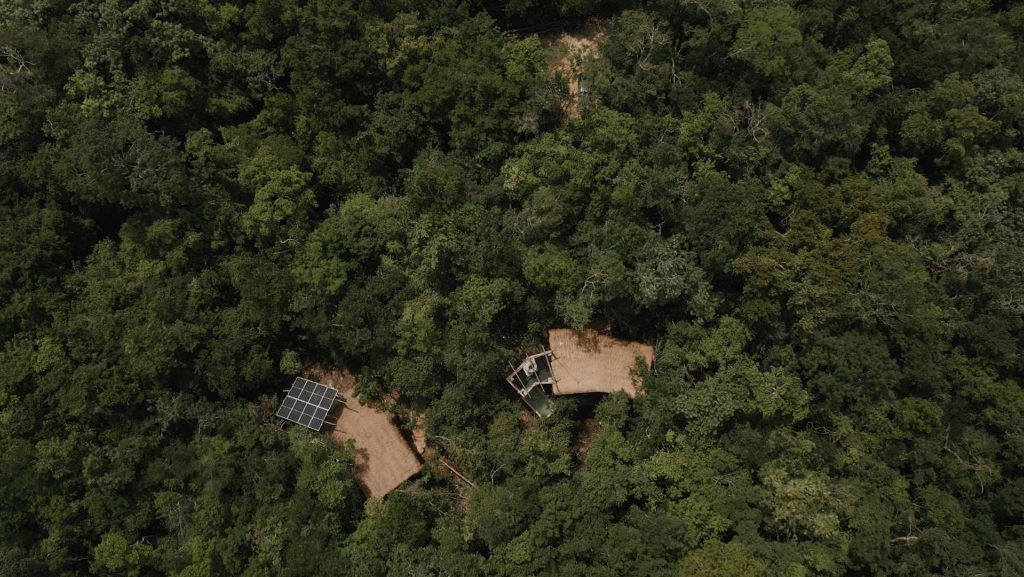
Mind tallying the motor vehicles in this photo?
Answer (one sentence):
Not a single motor vehicle can be seen.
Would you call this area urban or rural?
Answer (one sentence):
The area is rural.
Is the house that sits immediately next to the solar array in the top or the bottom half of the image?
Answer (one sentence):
It is in the bottom half that the house that sits immediately next to the solar array appears.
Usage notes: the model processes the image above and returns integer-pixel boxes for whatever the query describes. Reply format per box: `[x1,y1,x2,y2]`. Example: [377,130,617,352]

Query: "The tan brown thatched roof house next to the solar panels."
[320,393,426,499]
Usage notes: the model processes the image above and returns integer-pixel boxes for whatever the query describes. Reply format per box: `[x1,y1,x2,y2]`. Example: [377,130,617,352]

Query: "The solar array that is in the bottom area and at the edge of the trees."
[276,377,346,435]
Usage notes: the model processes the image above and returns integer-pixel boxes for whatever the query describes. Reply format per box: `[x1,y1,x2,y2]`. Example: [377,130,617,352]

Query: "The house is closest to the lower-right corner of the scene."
[549,327,654,403]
